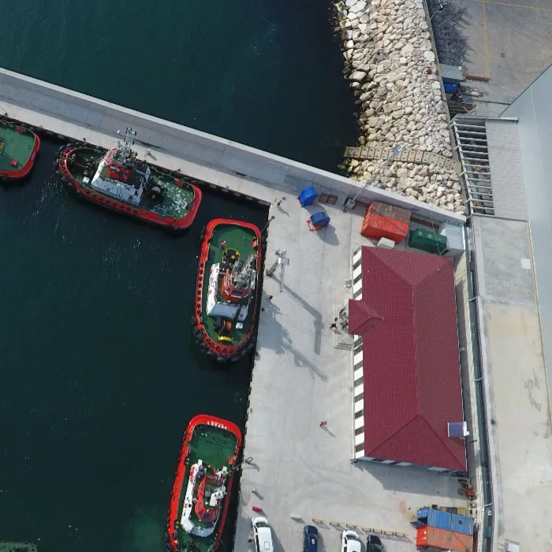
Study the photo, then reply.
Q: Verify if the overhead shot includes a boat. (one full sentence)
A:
Yes, there's a boat here.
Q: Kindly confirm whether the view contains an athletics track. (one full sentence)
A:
No, the scene contains no athletics track.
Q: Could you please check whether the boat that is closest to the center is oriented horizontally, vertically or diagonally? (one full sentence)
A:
Seen from above, the boat that is closest to the center lies vertically.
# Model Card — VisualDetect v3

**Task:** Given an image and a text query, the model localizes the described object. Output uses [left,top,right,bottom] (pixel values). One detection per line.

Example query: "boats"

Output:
[54,135,200,232]
[0,125,41,182]
[194,222,264,363]
[167,415,240,552]
[0,541,37,552]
